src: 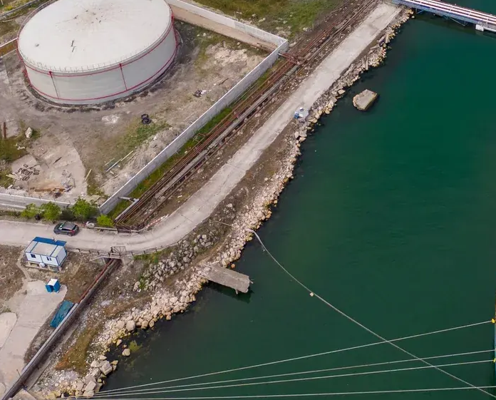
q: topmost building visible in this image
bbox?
[23,237,69,270]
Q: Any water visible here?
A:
Yes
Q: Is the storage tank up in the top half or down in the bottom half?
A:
top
